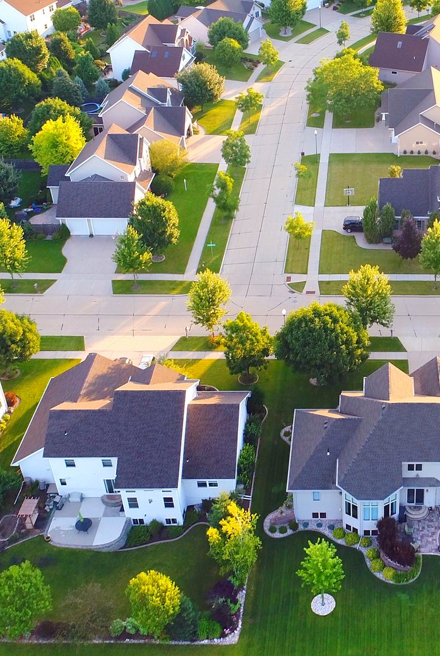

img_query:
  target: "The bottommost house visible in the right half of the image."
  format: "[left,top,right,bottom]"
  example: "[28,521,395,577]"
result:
[285,352,440,535]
